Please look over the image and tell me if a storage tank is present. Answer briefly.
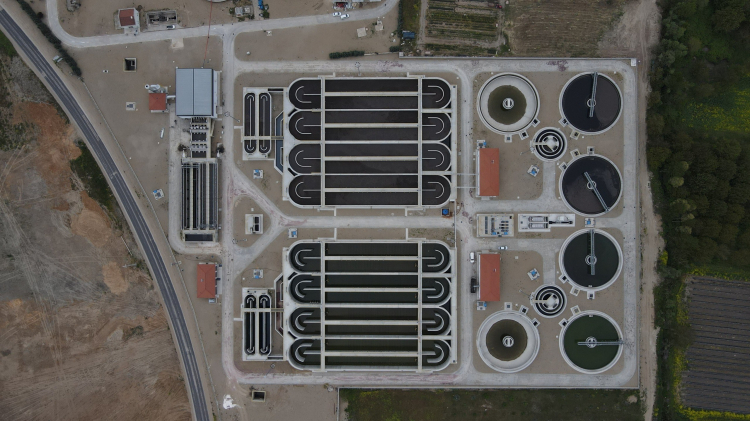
Yes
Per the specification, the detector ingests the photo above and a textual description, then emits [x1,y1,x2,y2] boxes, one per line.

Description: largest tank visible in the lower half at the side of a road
[283,228,457,372]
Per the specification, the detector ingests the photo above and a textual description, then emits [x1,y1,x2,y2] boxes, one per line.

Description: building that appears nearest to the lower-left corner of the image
[197,264,218,299]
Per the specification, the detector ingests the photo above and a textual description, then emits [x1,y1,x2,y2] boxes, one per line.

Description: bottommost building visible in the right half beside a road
[478,253,500,301]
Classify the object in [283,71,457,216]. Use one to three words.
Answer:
storage tank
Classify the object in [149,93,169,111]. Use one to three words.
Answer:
building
